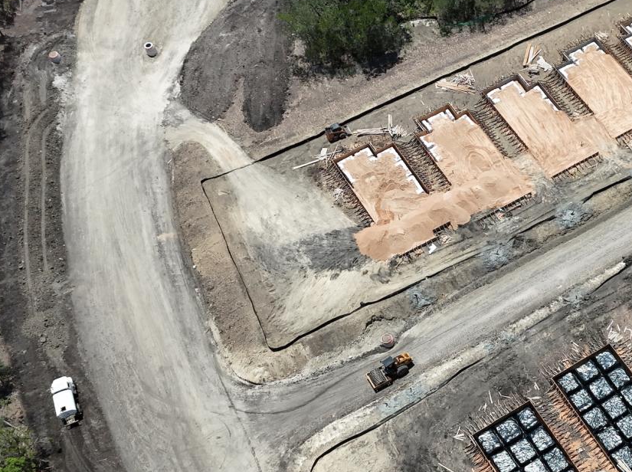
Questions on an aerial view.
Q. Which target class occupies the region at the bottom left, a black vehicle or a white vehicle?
white vehicle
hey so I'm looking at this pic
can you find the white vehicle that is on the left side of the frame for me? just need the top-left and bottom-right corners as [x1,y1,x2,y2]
[48,374,84,430]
